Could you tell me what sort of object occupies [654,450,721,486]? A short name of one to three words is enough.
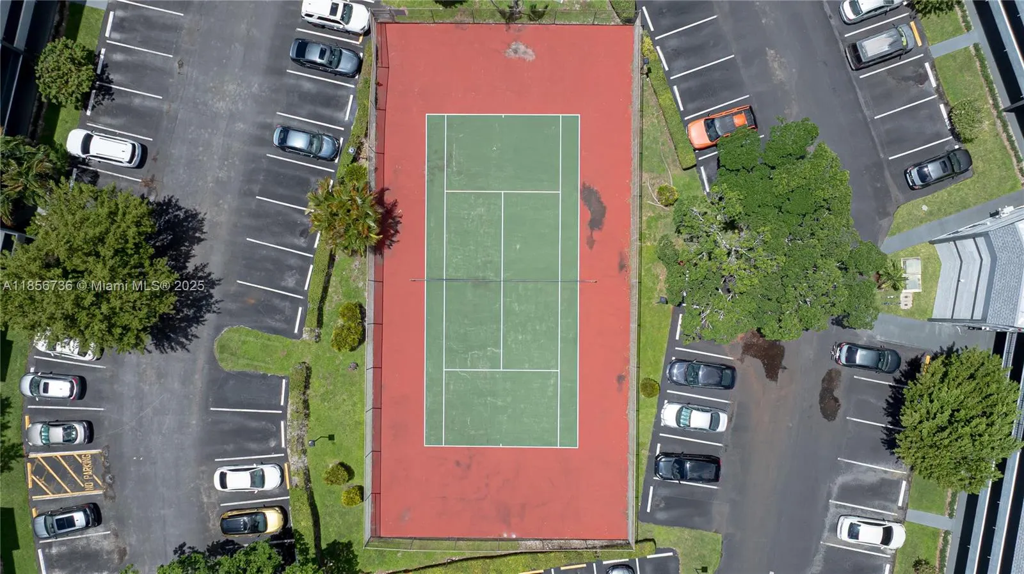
car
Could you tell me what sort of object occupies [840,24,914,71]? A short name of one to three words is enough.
van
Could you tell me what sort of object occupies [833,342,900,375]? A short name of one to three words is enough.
car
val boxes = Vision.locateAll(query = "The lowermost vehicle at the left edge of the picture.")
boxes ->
[34,501,104,541]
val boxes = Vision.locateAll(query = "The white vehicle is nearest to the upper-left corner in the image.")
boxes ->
[68,128,144,169]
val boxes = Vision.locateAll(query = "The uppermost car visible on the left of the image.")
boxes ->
[299,0,370,34]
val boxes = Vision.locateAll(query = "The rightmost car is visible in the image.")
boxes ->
[901,149,971,189]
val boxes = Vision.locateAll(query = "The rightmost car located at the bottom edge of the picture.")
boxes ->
[834,514,905,551]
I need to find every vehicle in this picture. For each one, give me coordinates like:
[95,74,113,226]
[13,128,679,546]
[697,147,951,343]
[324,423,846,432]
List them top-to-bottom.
[299,0,370,34]
[835,0,904,24]
[840,24,914,71]
[291,38,360,77]
[685,103,761,150]
[273,124,340,162]
[68,128,144,169]
[901,149,971,189]
[833,342,900,375]
[666,358,735,391]
[20,371,84,402]
[660,400,728,434]
[27,419,92,450]
[654,450,721,486]
[215,462,283,494]
[34,501,104,541]
[220,504,285,538]
[834,514,905,551]
[606,562,632,574]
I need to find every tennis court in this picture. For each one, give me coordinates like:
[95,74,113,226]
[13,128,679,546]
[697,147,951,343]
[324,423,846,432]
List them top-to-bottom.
[372,21,634,541]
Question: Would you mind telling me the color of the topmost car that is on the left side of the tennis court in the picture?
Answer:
white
